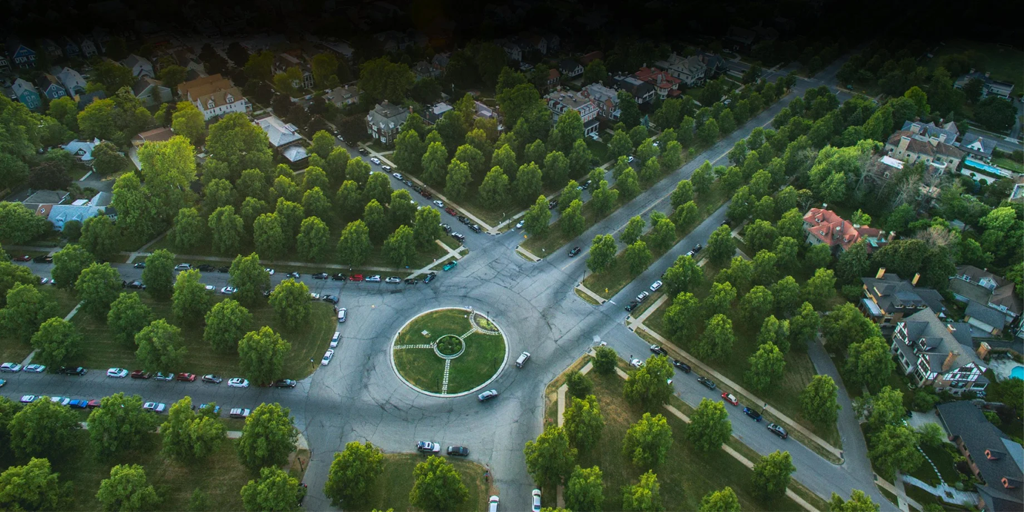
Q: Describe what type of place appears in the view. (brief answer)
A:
residential area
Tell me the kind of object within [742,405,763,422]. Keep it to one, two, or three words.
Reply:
car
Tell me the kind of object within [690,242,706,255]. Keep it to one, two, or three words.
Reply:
vehicle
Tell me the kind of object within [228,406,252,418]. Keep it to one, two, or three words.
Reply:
vehicle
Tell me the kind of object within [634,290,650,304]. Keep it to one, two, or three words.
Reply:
car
